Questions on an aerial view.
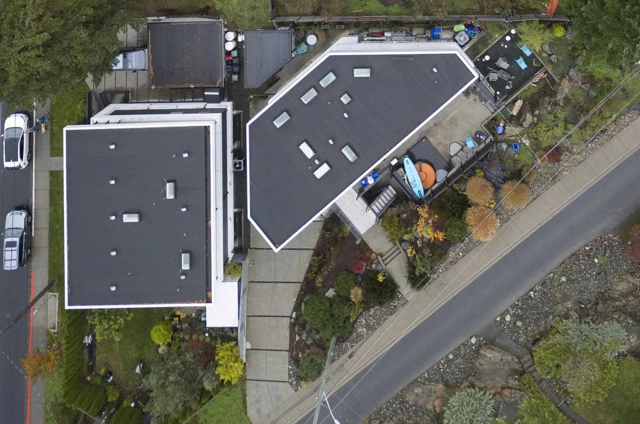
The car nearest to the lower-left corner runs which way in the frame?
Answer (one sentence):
In this picture, the car nearest to the lower-left corner lies from top to bottom.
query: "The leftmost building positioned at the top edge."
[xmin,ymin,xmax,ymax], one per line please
[146,15,230,89]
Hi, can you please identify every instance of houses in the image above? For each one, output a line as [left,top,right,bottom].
[246,27,483,252]
[64,91,245,327]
